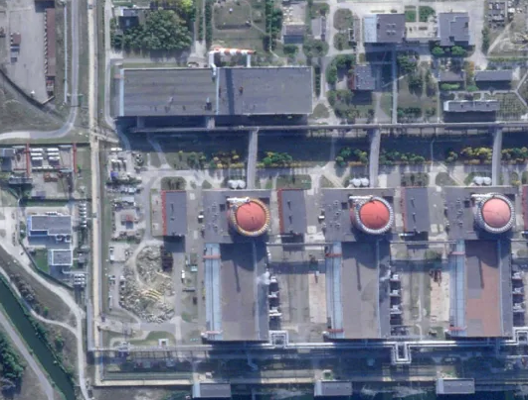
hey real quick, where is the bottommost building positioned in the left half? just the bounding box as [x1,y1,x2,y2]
[191,383,231,399]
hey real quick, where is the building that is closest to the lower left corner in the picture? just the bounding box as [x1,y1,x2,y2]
[50,250,72,265]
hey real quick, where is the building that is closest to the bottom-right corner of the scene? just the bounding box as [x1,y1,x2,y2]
[435,378,474,395]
